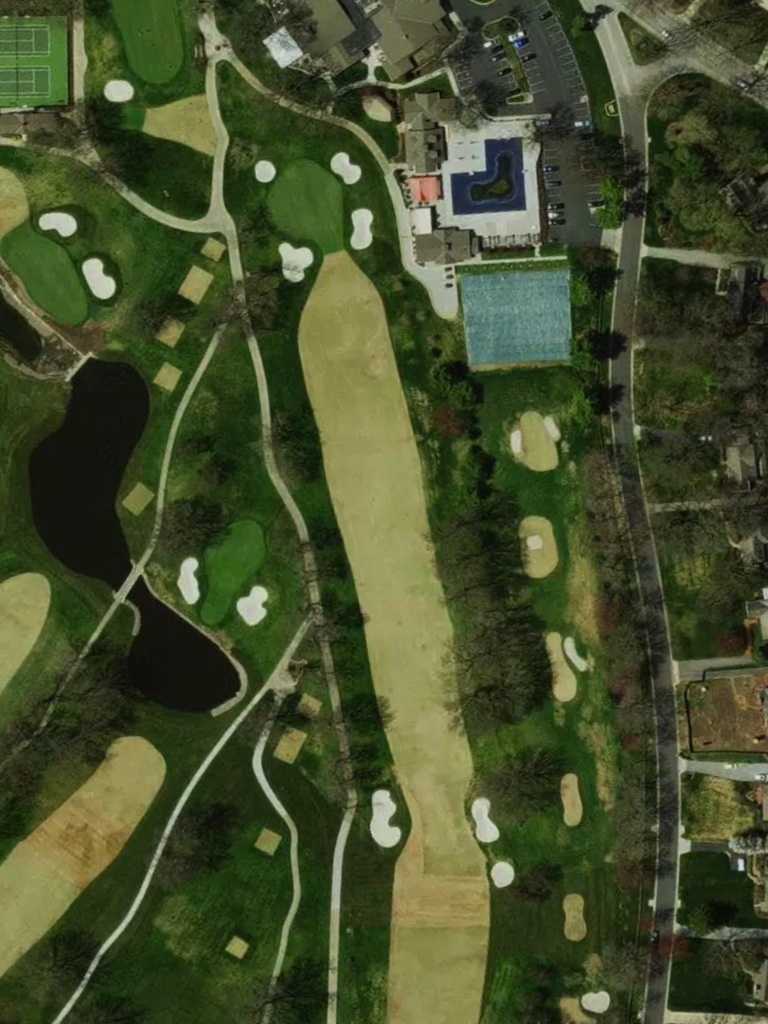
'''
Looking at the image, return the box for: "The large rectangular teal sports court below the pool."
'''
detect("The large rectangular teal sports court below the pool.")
[460,268,572,371]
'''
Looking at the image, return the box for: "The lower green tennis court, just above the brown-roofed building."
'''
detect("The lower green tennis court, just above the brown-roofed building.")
[0,61,67,106]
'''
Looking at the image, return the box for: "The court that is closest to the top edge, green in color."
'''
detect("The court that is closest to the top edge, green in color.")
[0,16,67,61]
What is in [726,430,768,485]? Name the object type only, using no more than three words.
house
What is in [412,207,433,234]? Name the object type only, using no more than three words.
building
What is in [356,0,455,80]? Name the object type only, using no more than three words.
building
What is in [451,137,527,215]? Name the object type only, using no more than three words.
swimming pool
